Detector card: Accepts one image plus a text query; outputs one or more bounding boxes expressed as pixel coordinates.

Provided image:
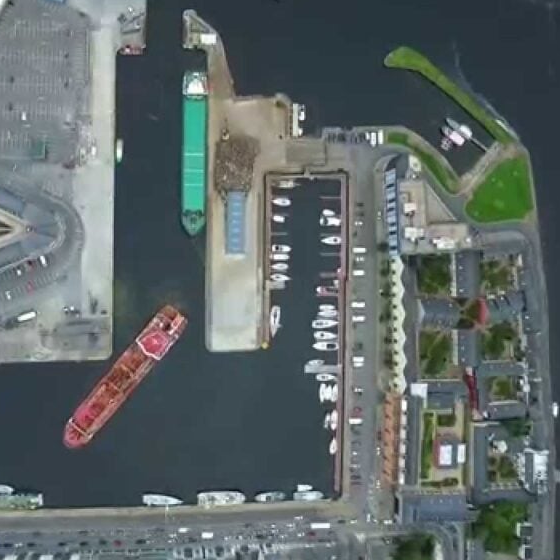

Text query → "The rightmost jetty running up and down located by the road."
[317,180,346,496]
